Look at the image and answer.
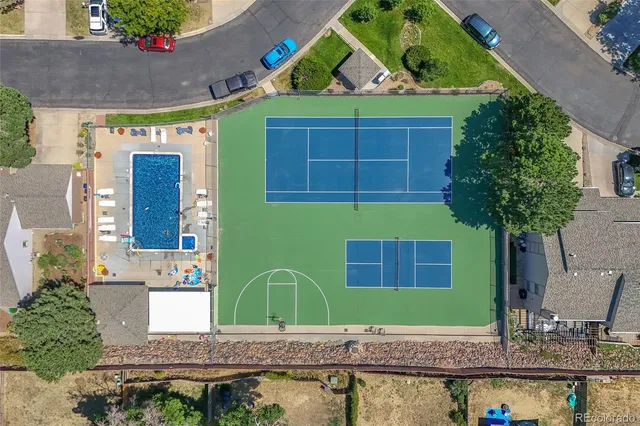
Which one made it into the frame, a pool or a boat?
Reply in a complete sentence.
It is a pool that can be seen here.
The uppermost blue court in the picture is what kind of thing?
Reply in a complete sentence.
It turns out the uppermost blue court is a tennis court.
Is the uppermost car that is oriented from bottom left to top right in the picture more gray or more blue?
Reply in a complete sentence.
In this view, the uppermost car that is oriented from bottom left to top right is blue.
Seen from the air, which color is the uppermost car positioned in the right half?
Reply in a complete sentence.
In this view, the uppermost car positioned in the right half is blue.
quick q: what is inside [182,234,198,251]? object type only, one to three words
swimming pool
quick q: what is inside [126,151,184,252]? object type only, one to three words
swimming pool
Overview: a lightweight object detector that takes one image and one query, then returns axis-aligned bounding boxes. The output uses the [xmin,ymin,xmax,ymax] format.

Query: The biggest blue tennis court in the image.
[265,116,453,204]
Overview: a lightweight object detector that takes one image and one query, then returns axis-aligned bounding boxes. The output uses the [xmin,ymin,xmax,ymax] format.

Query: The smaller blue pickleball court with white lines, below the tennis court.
[346,240,452,289]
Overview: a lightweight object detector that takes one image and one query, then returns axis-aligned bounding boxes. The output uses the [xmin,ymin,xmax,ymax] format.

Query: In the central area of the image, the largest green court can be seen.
[216,96,499,325]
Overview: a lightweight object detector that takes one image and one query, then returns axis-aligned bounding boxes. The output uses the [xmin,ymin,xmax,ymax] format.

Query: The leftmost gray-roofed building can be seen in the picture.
[0,166,82,307]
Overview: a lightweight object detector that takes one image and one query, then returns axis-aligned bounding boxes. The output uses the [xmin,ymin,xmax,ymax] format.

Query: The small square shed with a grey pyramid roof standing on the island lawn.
[338,48,381,91]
